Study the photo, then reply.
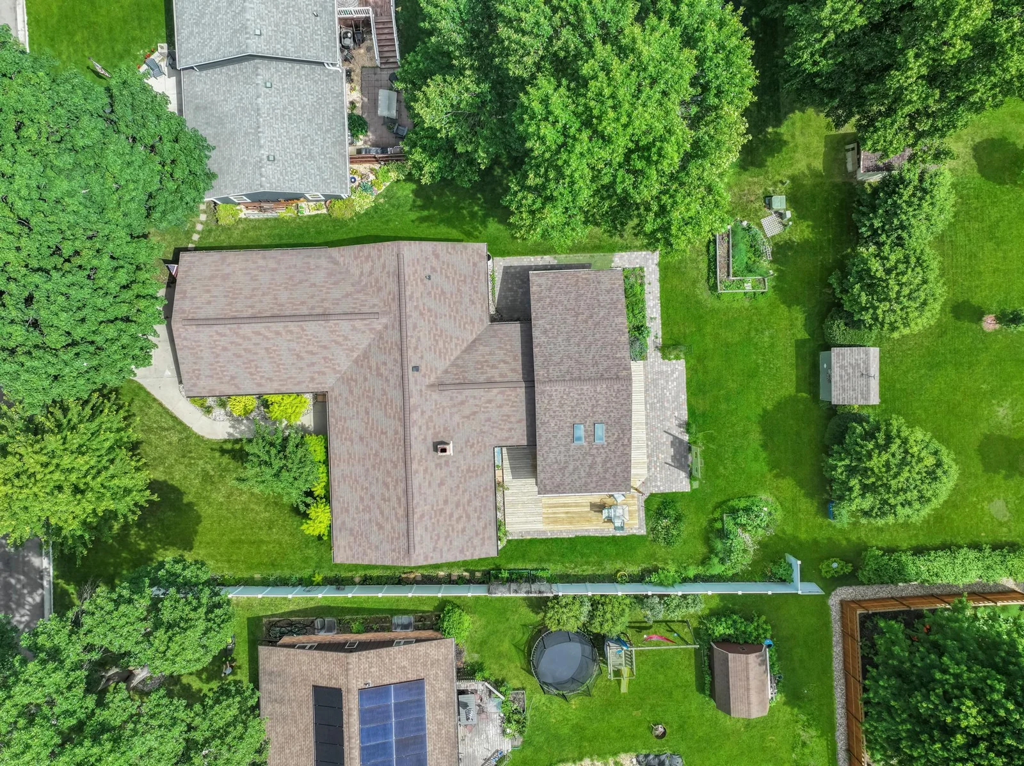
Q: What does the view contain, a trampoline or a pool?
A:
trampoline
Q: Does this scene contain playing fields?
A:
No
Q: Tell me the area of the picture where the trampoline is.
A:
bottom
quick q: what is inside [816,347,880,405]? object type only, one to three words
shed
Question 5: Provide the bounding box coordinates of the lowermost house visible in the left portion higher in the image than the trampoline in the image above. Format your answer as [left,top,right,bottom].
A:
[170,241,633,566]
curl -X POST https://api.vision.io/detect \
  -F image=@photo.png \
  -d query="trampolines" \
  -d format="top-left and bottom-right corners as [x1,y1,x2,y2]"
[530,625,601,707]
